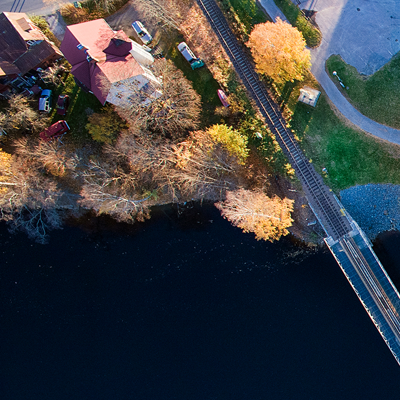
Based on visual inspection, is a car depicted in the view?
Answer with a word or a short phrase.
Yes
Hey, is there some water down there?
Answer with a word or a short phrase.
Yes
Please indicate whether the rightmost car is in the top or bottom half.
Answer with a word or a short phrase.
top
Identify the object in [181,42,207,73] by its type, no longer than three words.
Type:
car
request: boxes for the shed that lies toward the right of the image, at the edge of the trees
[296,86,320,108]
